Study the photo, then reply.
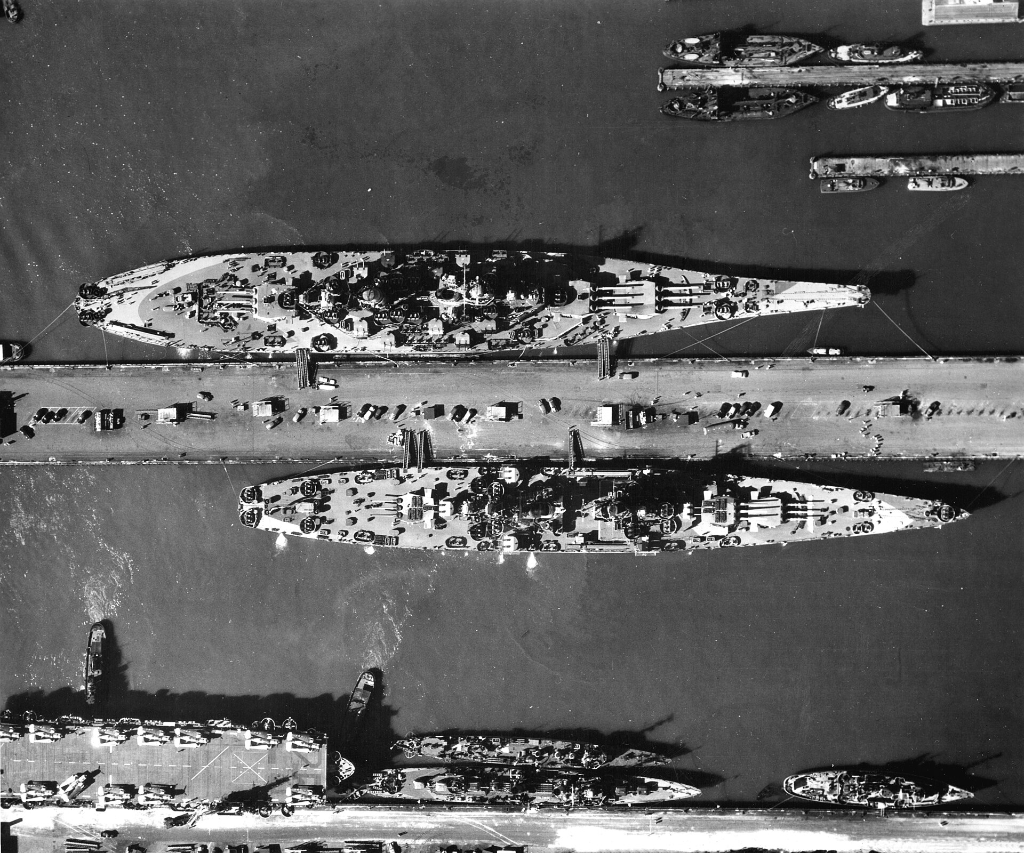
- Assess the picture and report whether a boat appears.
Yes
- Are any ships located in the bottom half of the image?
Yes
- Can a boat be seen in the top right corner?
Yes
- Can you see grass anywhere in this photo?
No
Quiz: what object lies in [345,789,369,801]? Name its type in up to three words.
boat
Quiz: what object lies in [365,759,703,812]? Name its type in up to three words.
ship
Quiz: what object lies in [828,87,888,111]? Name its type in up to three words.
boat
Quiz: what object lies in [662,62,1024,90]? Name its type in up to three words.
pier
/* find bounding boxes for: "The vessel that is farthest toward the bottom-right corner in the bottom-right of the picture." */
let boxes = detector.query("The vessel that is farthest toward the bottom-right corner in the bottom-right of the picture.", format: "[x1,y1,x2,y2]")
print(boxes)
[782,764,975,809]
